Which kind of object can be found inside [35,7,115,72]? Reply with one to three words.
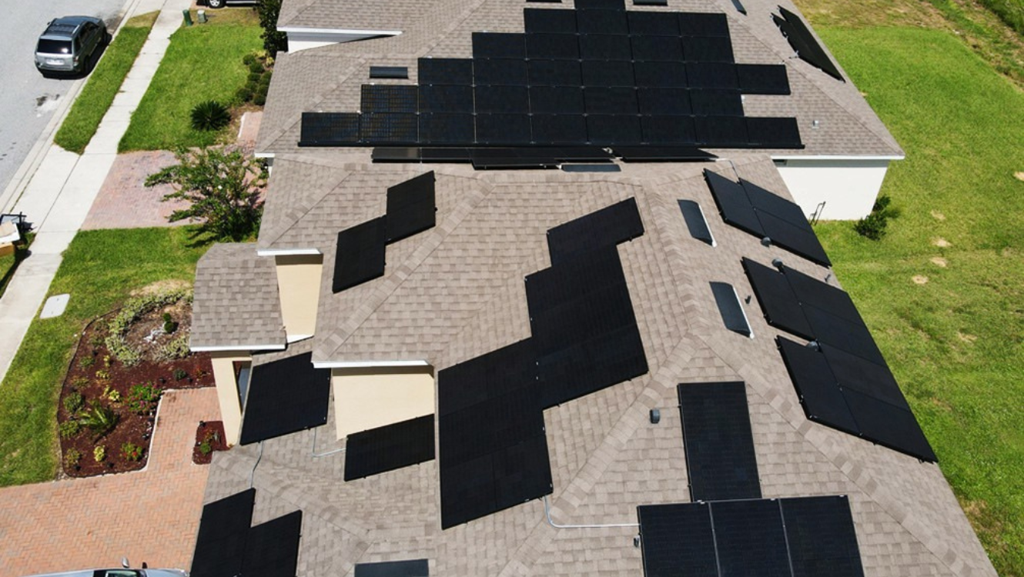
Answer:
car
